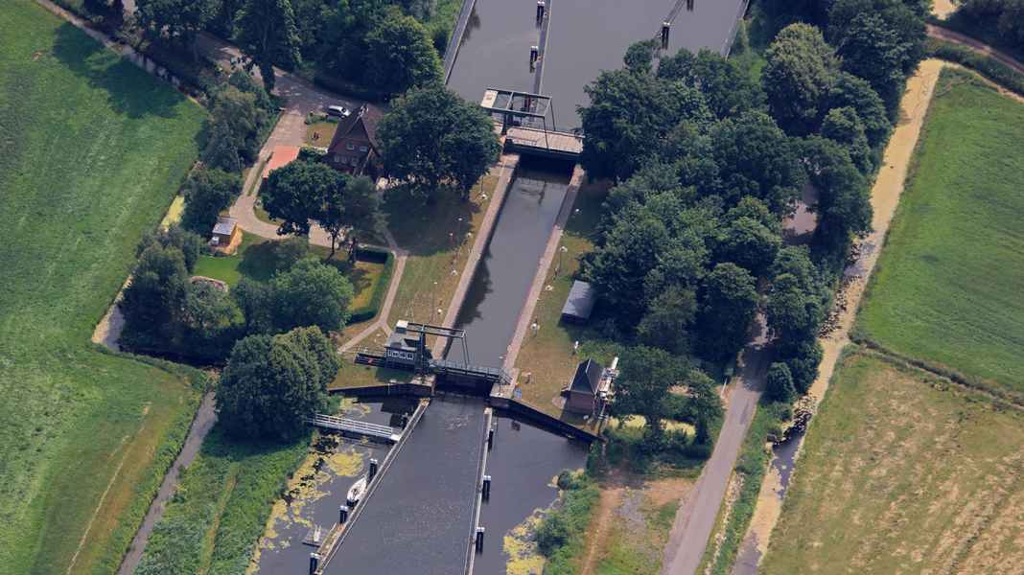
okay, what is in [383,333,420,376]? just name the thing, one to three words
shed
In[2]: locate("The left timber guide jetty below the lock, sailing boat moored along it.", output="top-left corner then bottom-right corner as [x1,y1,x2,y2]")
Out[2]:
[313,396,434,575]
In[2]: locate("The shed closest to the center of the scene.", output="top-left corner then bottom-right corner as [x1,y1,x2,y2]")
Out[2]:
[563,282,595,330]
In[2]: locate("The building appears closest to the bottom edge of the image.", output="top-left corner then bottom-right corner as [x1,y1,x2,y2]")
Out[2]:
[559,356,605,408]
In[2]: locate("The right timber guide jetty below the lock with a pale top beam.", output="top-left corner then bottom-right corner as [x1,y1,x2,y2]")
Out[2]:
[462,405,495,575]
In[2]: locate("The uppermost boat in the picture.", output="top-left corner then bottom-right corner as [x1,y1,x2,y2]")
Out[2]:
[348,472,367,503]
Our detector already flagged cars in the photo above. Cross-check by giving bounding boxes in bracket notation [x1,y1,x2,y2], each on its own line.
[325,103,349,118]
